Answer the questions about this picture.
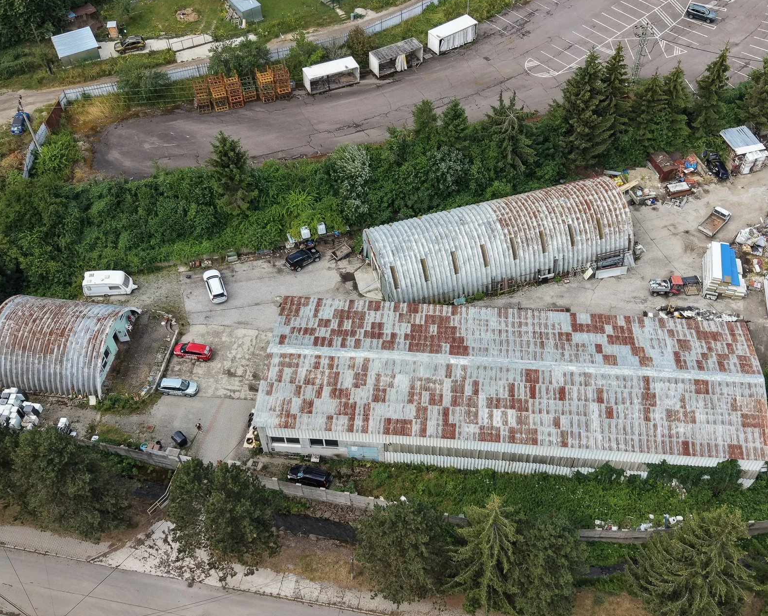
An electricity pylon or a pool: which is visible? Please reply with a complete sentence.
It is an electricity pylon that can be seen here.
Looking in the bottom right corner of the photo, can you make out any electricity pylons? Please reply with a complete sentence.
No, looking in the bottom right corner of the photo, there is no electricity pylon.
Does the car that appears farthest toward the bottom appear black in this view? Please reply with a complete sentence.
Yes, black is the color of the car that appears farthest toward the bottom.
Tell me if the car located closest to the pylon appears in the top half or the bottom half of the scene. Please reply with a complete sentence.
The top half of the photo is where the car located closest to the pylon is.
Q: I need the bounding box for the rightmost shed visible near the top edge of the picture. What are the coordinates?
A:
[228,0,262,23]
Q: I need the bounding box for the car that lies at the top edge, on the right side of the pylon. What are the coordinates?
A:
[686,2,717,23]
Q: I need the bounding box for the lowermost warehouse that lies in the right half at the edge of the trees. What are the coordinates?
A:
[253,295,768,487]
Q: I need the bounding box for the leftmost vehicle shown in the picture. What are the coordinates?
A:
[5,112,27,133]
